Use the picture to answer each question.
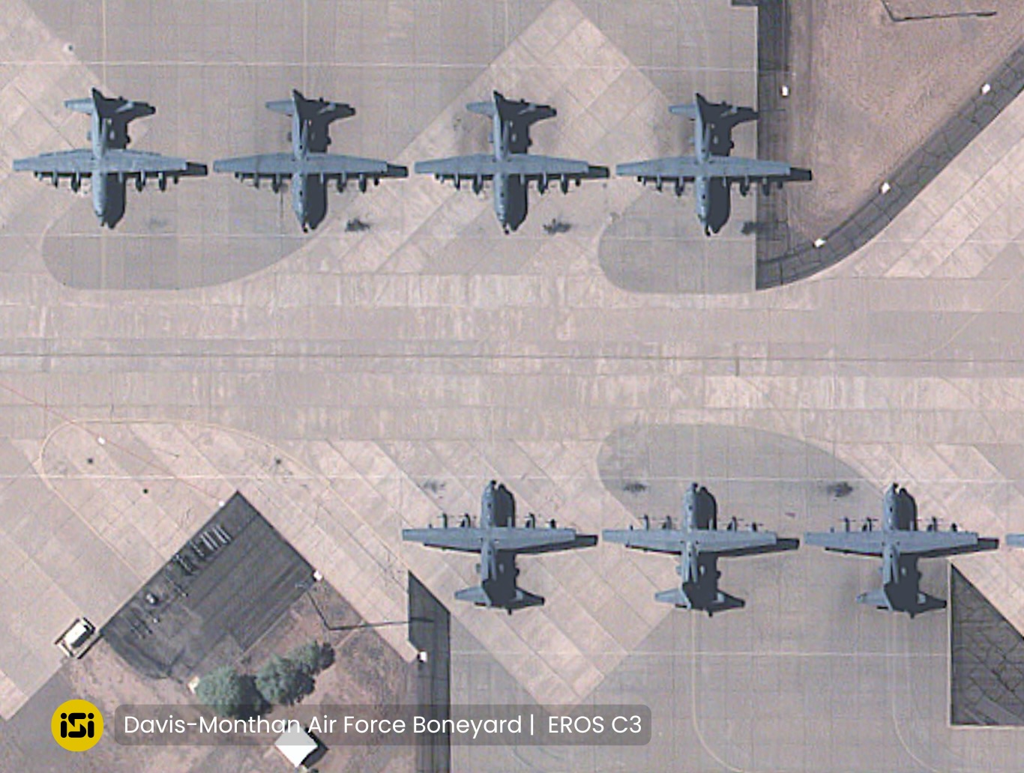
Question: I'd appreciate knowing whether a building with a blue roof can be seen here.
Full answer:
No, I can see no building with a blue roof in this picture.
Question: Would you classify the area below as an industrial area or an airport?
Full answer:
This image shows an airport.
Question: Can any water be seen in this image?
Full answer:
No, there's no water in this view.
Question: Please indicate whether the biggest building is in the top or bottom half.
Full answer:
You can find the biggest building in the bottom half.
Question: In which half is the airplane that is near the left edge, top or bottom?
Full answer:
It is in the top half that the airplane that is near the left edge appears.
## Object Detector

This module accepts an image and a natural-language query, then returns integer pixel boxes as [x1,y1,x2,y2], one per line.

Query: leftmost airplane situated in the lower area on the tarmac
[402,480,576,610]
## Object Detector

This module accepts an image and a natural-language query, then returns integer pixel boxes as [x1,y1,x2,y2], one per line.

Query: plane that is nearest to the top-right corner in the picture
[615,92,789,235]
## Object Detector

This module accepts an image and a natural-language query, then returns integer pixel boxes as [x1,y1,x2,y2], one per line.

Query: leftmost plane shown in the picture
[11,87,185,225]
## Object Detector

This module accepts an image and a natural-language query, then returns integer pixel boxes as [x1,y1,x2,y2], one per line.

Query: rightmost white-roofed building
[273,723,317,768]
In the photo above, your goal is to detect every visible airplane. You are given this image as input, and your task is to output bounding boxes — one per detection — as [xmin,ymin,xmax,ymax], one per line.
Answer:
[804,484,978,614]
[414,89,588,233]
[1006,535,1024,548]
[11,87,185,225]
[615,92,789,235]
[402,480,576,610]
[212,88,386,232]
[602,482,776,611]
